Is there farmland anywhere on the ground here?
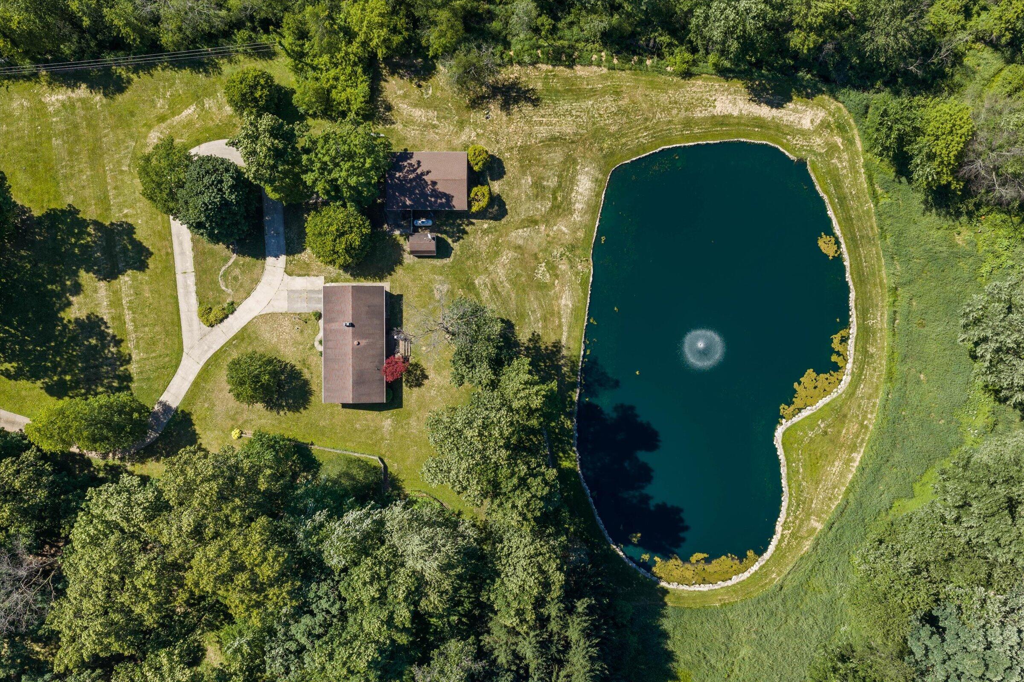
No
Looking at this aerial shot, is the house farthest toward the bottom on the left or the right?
left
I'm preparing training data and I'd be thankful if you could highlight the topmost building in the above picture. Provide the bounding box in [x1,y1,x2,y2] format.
[384,151,468,210]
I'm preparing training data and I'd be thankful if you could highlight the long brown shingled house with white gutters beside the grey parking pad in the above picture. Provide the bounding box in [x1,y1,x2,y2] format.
[322,285,386,405]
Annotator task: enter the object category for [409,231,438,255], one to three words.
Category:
shed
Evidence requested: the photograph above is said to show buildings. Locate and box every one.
[384,151,468,210]
[322,285,386,405]
[409,231,438,255]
